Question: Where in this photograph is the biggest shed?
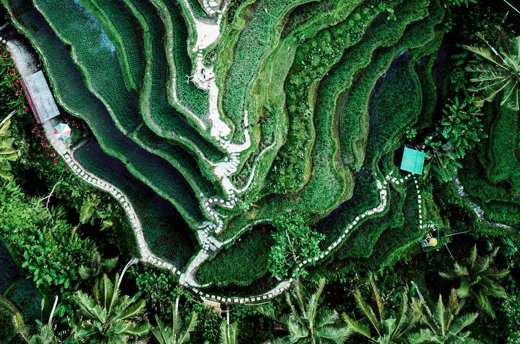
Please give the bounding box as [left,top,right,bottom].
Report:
[19,67,61,124]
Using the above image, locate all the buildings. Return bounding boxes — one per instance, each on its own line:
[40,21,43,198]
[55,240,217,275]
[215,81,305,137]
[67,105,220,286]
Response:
[19,67,61,124]
[397,145,426,176]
